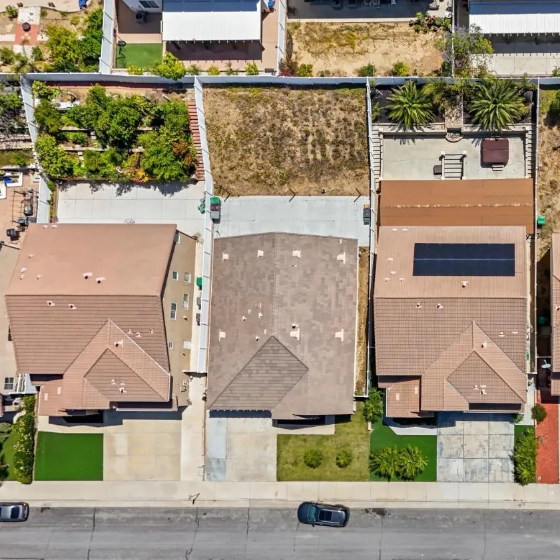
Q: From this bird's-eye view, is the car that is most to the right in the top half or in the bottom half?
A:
bottom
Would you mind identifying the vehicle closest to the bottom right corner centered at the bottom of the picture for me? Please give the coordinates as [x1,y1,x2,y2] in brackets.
[297,501,351,528]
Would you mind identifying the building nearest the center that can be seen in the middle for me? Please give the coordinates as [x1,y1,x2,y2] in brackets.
[204,234,358,419]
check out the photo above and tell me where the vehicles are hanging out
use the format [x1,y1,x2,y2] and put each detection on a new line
[297,501,351,528]
[0,500,34,521]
